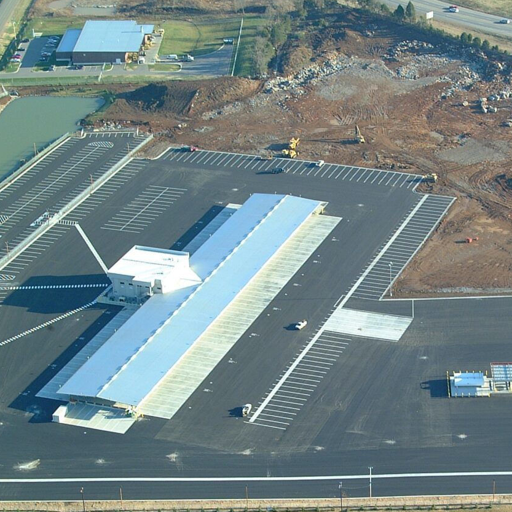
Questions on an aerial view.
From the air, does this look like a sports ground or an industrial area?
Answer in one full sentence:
What you see here is a sports ground.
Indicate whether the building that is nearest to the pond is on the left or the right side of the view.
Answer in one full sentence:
The building that is nearest to the pond appears in the left half of the scene.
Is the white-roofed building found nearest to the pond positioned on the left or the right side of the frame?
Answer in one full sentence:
It is on the left.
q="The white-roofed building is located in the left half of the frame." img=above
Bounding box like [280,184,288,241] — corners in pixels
[107,242,202,301]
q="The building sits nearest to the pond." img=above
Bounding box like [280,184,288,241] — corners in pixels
[57,20,155,62]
